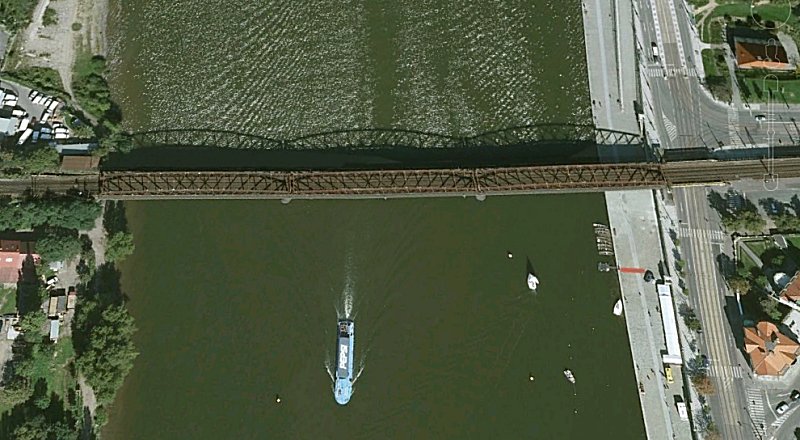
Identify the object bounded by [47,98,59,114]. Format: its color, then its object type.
white vehicle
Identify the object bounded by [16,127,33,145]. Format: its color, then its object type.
white vehicle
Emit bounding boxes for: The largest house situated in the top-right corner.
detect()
[735,39,790,69]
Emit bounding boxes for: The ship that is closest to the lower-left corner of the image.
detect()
[334,319,354,405]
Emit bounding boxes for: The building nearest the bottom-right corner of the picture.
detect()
[741,321,799,374]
